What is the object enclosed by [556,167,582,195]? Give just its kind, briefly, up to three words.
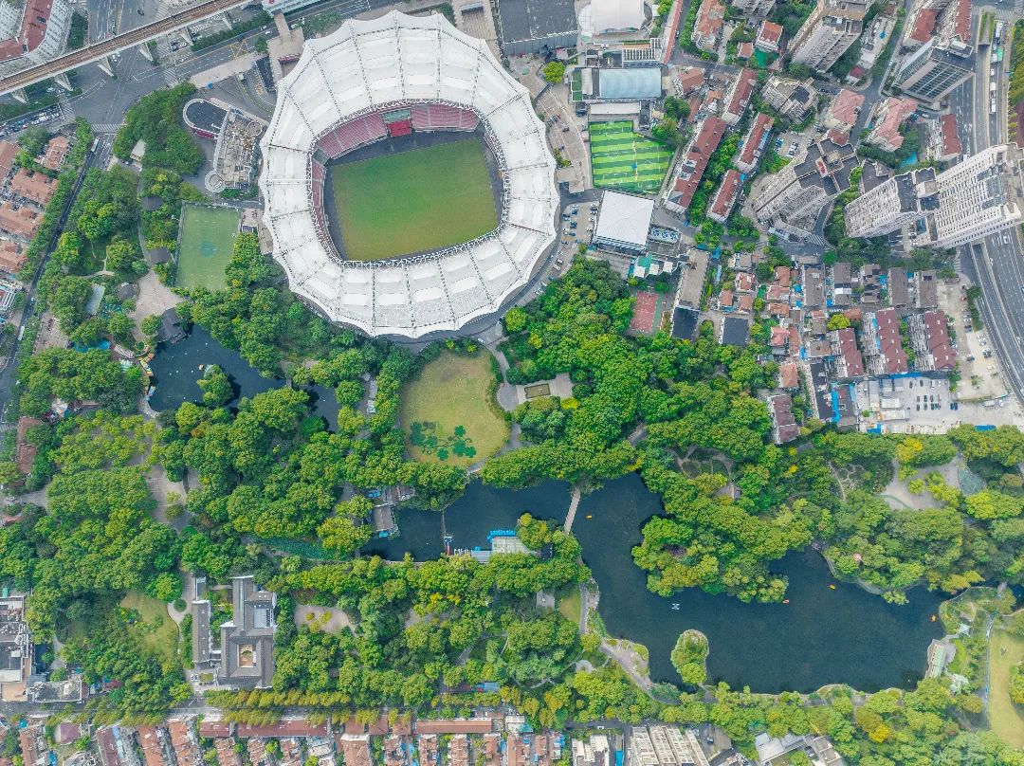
shed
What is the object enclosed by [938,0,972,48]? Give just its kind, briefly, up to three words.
building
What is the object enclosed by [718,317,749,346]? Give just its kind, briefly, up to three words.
house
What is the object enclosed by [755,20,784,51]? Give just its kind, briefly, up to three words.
house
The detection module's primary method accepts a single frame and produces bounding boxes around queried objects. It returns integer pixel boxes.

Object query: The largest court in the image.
[630,291,663,334]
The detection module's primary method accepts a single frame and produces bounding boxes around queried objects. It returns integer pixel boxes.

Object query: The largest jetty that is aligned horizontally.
[493,537,536,554]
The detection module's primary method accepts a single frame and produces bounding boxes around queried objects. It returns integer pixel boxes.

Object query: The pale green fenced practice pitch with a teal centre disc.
[174,203,240,291]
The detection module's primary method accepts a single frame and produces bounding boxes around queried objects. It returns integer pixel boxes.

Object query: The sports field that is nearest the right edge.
[589,118,678,194]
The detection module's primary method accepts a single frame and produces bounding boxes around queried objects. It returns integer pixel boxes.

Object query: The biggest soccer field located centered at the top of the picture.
[331,137,497,260]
